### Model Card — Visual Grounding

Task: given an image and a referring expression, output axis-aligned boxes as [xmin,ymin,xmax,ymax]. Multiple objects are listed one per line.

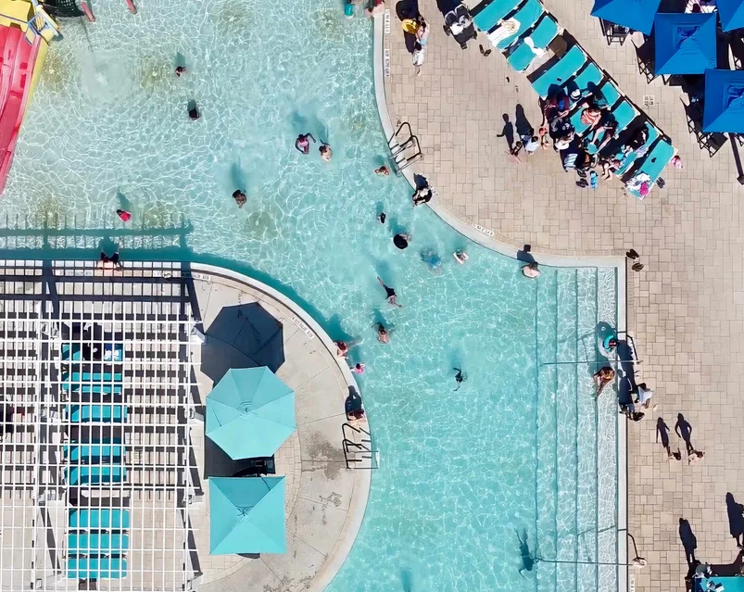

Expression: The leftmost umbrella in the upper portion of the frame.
[581,0,659,45]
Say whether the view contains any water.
Yes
